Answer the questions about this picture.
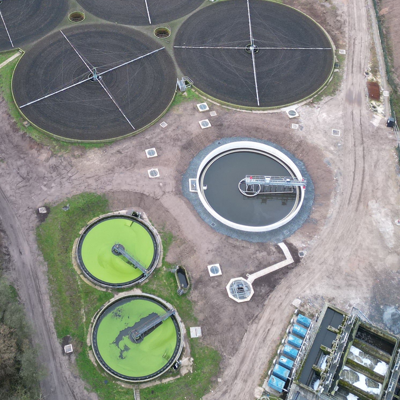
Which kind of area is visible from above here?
industrial area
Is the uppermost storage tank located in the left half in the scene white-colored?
No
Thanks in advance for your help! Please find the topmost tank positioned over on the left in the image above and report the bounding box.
[76,214,163,293]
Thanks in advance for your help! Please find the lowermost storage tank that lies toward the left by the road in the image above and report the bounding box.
[91,291,188,385]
